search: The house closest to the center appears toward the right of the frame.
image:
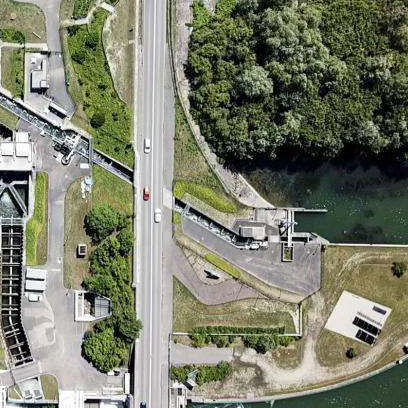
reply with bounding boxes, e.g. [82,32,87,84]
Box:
[235,226,267,238]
